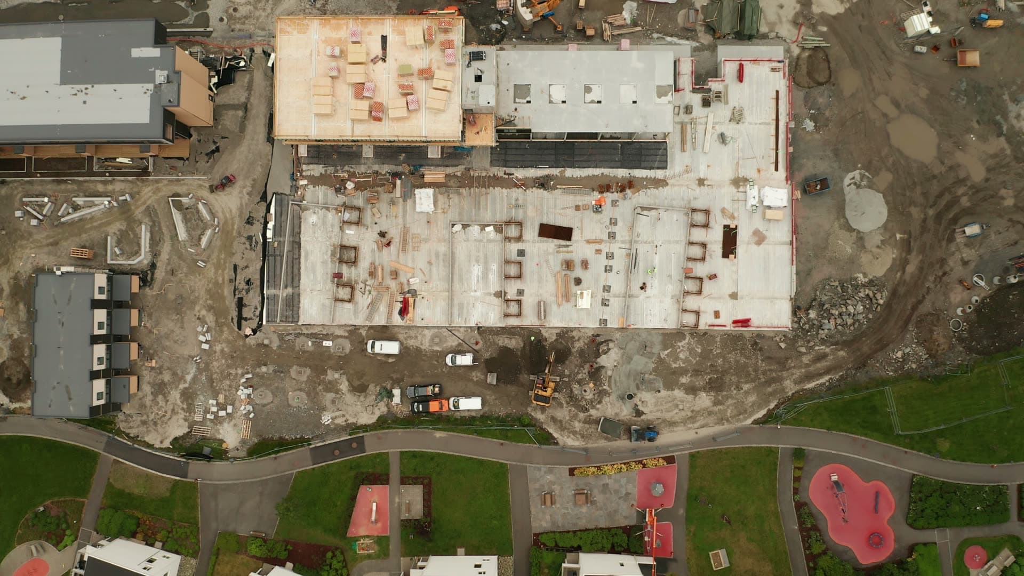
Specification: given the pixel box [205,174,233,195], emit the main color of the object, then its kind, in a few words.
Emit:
red work vehicle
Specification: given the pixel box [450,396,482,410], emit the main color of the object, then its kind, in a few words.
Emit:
white vehicle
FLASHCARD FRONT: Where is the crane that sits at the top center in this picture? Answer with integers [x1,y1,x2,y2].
[515,0,563,34]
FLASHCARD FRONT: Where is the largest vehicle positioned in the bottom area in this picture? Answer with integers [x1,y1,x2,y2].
[529,350,560,409]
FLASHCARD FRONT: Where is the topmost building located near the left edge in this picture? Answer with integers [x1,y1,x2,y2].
[0,17,213,145]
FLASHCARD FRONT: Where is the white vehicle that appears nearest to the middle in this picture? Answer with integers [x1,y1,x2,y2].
[447,353,476,366]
